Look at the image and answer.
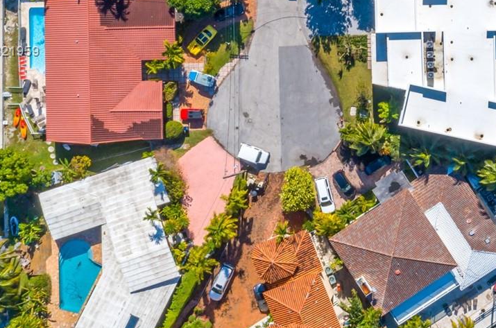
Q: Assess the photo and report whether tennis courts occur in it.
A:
No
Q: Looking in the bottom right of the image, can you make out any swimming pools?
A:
No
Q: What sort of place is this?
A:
residential area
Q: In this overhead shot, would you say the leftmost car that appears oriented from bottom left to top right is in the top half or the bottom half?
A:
top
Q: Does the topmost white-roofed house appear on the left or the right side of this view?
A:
right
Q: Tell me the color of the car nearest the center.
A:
white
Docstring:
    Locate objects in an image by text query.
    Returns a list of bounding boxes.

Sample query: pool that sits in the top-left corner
[26,5,47,77]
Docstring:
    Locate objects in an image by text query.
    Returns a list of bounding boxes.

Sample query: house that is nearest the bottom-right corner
[329,170,496,326]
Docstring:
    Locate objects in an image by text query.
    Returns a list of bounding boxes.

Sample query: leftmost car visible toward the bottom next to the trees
[210,263,235,300]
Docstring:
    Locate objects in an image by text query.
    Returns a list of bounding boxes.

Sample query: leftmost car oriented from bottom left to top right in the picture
[188,23,217,57]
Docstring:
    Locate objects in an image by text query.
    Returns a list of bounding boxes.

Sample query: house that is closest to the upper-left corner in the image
[45,0,178,144]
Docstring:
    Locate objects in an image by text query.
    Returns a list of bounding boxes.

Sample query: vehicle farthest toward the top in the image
[213,3,247,22]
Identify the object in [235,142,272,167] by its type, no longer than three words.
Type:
car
